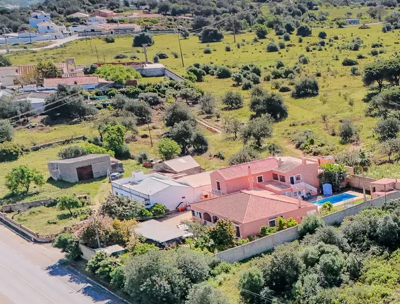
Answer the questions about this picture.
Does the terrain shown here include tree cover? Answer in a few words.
Yes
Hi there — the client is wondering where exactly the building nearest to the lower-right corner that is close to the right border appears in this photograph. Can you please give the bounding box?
[367,174,400,197]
